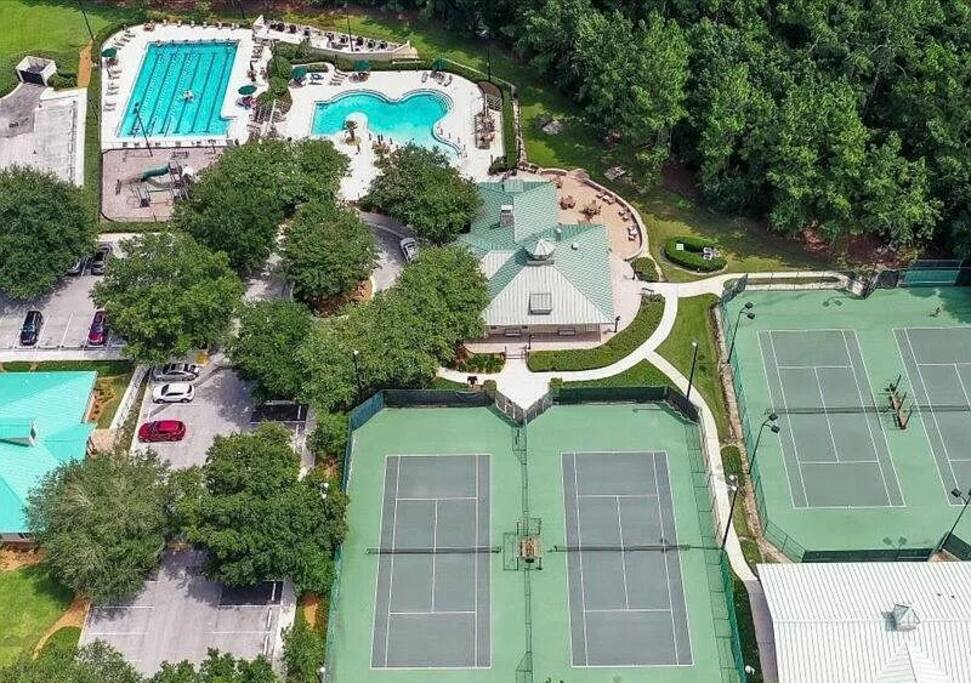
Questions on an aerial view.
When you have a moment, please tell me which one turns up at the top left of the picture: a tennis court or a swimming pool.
swimming pool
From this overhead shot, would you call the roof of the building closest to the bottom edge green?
No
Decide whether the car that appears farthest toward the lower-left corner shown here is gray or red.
red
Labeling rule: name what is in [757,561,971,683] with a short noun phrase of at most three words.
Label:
building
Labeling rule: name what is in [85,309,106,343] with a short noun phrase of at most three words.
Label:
car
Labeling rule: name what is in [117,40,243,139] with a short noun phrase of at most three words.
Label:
swimming pool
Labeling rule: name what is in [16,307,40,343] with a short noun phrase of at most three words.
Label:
car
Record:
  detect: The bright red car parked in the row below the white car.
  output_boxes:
[137,418,184,441]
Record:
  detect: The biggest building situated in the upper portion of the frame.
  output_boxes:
[461,175,615,342]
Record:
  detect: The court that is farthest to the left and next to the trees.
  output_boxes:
[324,407,525,683]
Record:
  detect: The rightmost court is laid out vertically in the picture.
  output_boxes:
[875,284,971,553]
